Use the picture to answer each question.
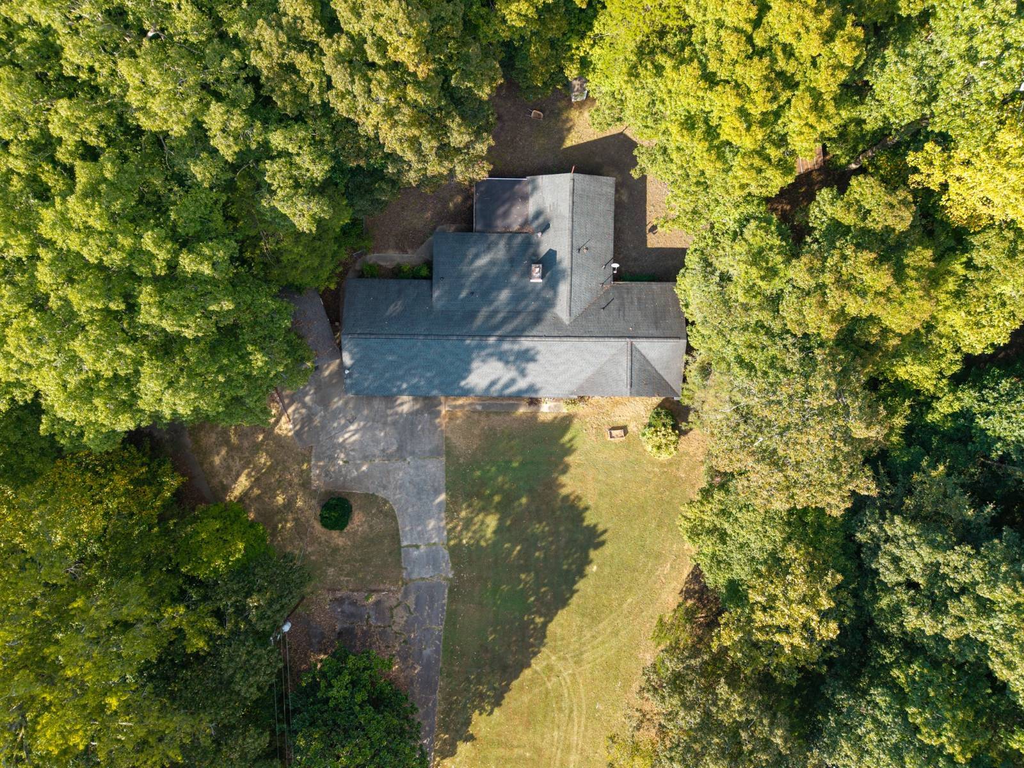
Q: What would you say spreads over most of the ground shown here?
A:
trees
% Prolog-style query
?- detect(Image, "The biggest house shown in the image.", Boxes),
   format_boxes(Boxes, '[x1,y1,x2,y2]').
[338,172,690,402]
